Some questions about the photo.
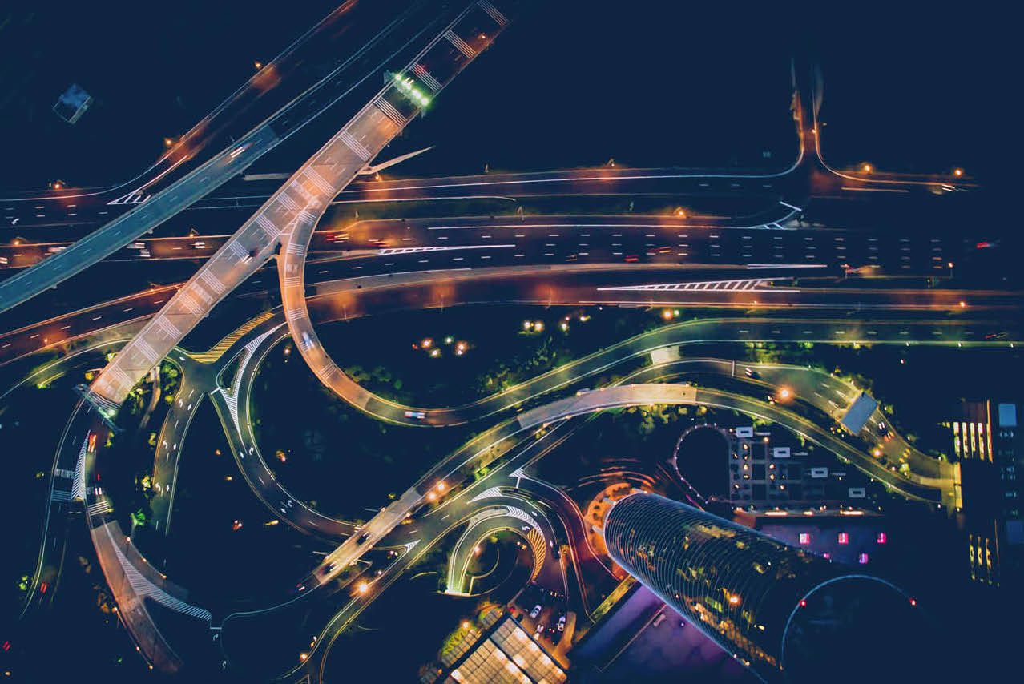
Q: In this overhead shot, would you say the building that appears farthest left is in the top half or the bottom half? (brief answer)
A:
top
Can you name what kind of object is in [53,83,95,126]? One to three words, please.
building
